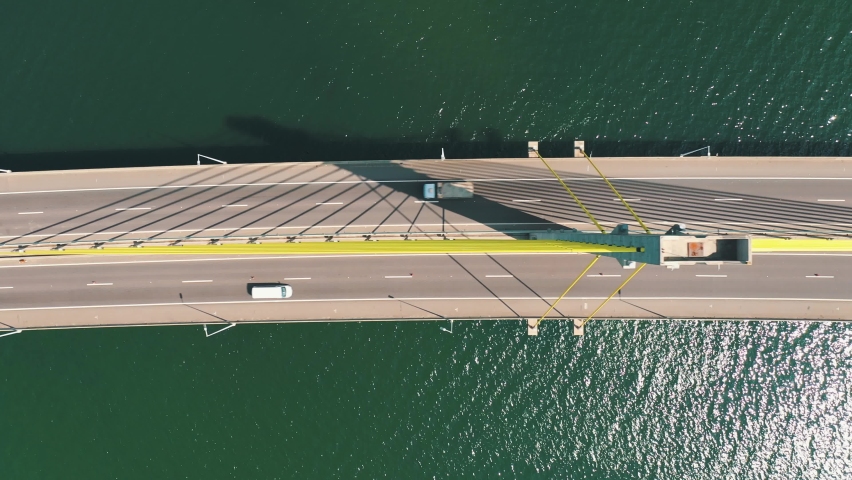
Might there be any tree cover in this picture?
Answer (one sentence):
No, there is no tree cover in the image.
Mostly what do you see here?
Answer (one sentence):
The largest share of the image is taken up by water.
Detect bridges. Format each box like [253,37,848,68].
[0,141,852,335]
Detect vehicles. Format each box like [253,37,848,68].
[423,182,473,200]
[251,283,292,299]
